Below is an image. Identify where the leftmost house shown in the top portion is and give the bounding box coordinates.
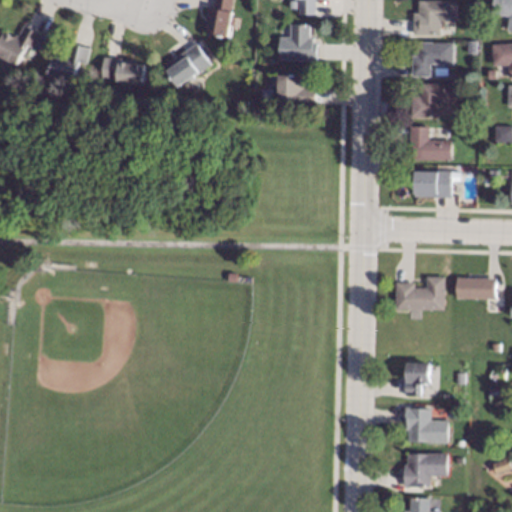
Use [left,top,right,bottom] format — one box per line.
[0,26,36,66]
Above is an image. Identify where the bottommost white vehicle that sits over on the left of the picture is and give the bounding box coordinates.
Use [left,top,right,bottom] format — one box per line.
[175,22,189,38]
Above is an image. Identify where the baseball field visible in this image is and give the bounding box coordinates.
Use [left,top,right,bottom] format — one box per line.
[0,256,253,505]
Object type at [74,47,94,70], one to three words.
building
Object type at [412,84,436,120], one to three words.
house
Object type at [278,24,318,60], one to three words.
house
